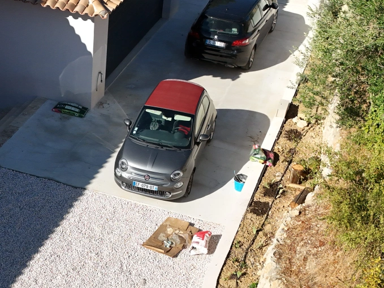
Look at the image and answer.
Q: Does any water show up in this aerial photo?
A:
No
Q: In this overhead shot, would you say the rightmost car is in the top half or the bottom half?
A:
top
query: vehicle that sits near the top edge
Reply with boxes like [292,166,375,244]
[184,0,283,71]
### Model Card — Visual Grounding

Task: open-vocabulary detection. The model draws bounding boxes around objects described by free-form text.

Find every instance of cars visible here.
[112,79,222,202]
[184,0,283,71]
